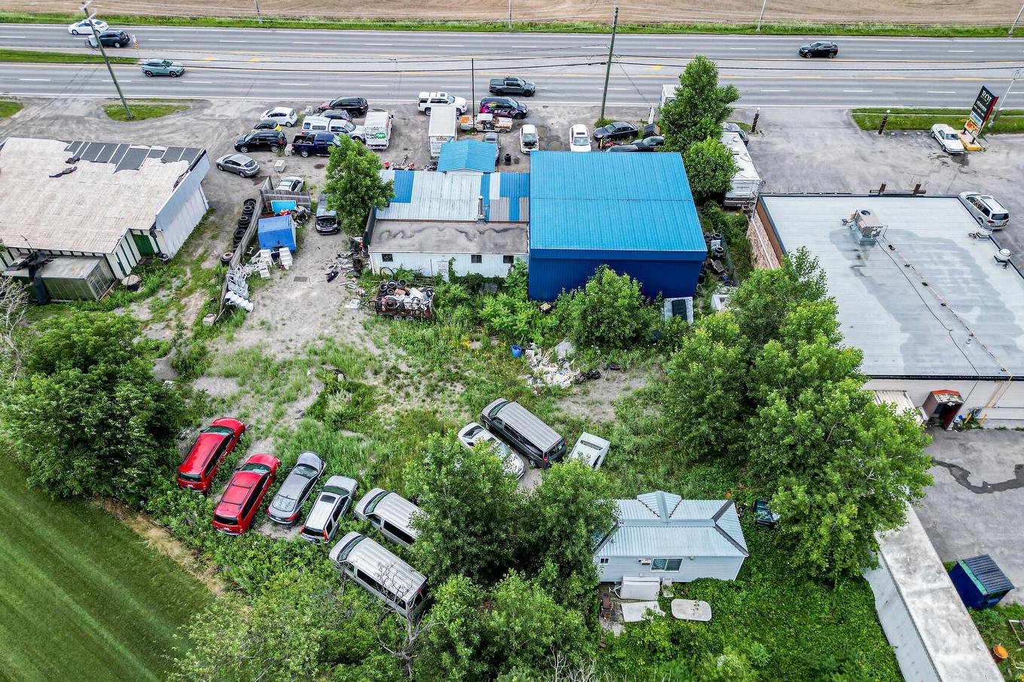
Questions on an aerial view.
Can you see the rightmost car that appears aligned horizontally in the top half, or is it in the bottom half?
top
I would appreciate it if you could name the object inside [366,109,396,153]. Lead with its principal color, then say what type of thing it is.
white truck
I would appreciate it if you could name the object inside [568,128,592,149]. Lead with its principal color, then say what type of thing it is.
white car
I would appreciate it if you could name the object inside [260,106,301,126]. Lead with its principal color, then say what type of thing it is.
white car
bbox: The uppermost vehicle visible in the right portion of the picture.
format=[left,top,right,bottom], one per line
[797,38,840,58]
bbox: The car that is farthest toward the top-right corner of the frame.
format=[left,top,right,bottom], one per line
[931,125,965,154]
